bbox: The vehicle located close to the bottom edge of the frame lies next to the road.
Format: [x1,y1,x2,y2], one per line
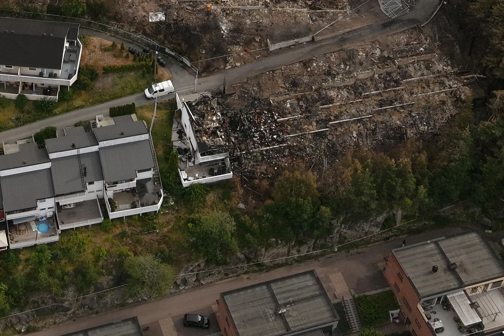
[183,313,211,330]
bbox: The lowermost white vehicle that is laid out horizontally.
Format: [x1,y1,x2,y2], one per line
[144,77,176,96]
